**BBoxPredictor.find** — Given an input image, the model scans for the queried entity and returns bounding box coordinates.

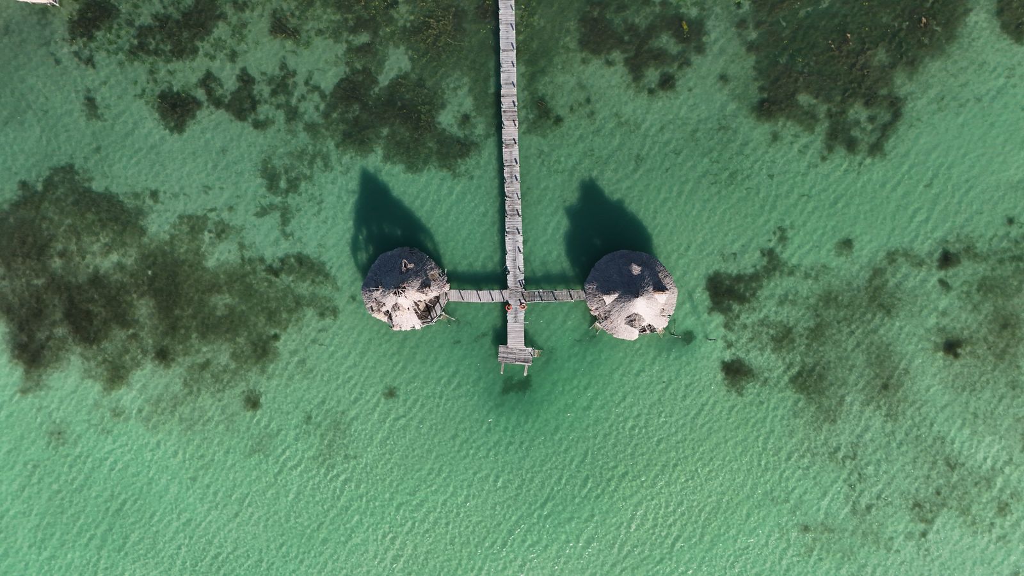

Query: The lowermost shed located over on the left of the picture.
[361,246,451,333]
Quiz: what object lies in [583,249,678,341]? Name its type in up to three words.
shed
